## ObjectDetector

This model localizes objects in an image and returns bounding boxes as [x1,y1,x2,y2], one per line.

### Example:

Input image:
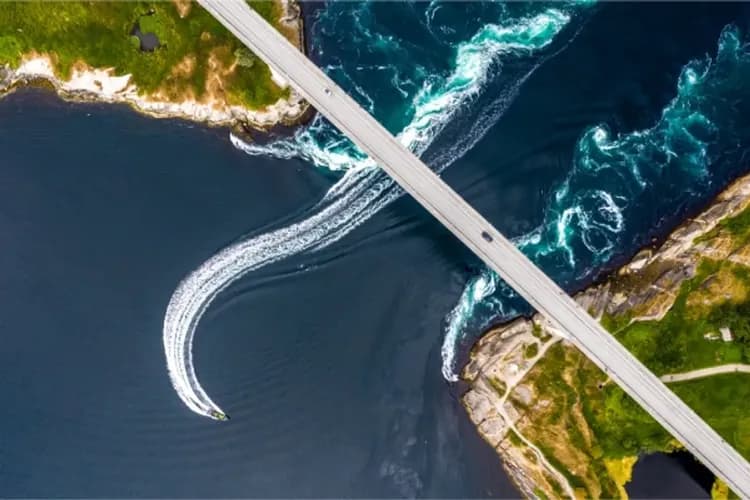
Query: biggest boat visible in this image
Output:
[208,406,230,421]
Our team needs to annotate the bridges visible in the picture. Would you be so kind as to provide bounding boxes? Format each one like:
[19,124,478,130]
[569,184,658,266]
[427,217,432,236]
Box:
[196,0,750,500]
